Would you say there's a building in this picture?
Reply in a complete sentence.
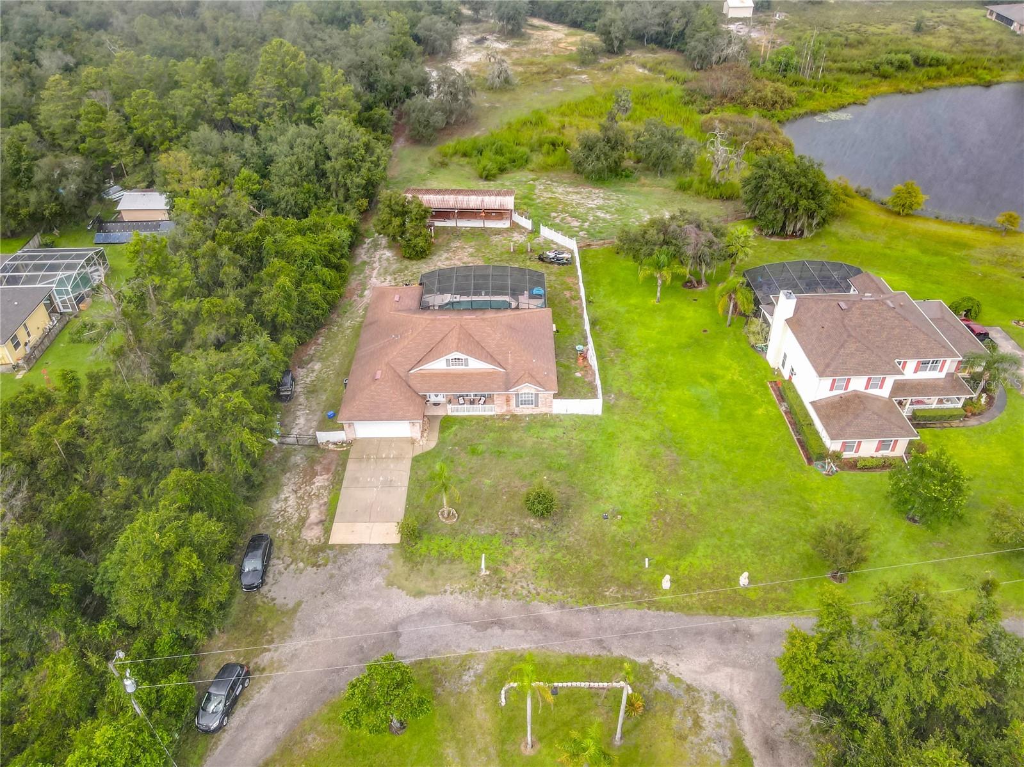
Yes, the photo shows a building.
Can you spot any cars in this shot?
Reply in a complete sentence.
Yes, this view includes a car.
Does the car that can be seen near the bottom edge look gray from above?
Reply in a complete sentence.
Yes, gray is the color of the car that can be seen near the bottom edge.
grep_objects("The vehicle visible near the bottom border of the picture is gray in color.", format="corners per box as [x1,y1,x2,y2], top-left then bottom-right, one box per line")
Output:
[192,662,255,739]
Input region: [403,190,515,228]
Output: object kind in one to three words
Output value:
building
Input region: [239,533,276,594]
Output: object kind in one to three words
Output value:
car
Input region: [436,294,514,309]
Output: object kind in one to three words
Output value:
swimming pool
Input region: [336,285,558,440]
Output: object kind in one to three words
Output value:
house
